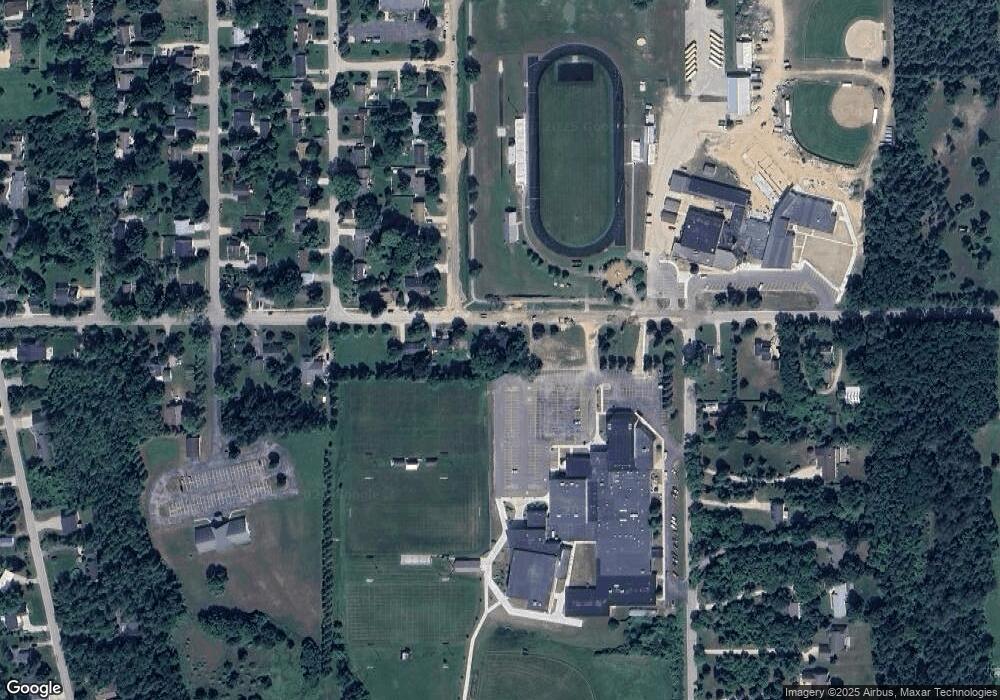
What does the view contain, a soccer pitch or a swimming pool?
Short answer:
soccer pitch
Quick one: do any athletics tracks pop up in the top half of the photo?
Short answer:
Yes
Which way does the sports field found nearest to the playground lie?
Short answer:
vertically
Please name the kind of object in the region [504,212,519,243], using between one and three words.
building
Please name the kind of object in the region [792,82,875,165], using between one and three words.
baseball field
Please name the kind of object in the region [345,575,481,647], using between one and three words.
sports field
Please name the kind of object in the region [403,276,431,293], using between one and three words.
house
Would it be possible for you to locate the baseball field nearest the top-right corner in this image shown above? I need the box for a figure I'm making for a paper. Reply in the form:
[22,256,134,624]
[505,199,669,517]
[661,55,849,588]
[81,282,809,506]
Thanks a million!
[804,0,885,62]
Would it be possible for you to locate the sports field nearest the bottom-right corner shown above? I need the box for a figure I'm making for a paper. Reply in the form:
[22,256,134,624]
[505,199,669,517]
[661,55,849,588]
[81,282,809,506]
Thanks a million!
[482,653,594,700]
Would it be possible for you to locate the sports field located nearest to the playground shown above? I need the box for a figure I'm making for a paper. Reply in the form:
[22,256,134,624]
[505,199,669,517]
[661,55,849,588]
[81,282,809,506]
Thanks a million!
[540,56,611,245]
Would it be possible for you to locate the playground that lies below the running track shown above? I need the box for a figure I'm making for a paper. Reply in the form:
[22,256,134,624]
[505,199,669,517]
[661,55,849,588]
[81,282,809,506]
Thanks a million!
[604,260,632,286]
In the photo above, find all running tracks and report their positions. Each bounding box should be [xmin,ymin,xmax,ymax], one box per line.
[526,43,625,258]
